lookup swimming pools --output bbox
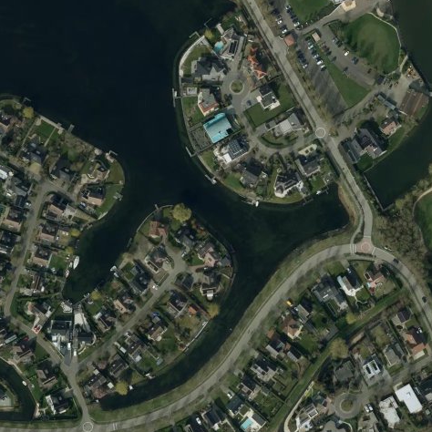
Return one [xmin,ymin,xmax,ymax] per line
[213,40,223,51]
[239,416,254,430]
